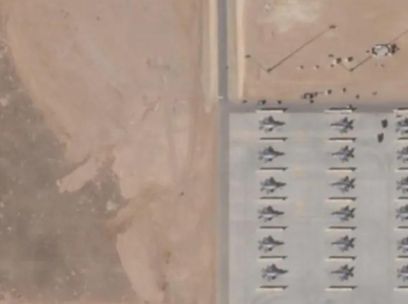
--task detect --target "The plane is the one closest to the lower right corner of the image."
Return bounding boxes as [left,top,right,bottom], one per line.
[394,266,408,281]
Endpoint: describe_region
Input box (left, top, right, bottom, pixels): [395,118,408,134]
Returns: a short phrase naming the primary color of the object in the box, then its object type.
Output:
gray airplane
